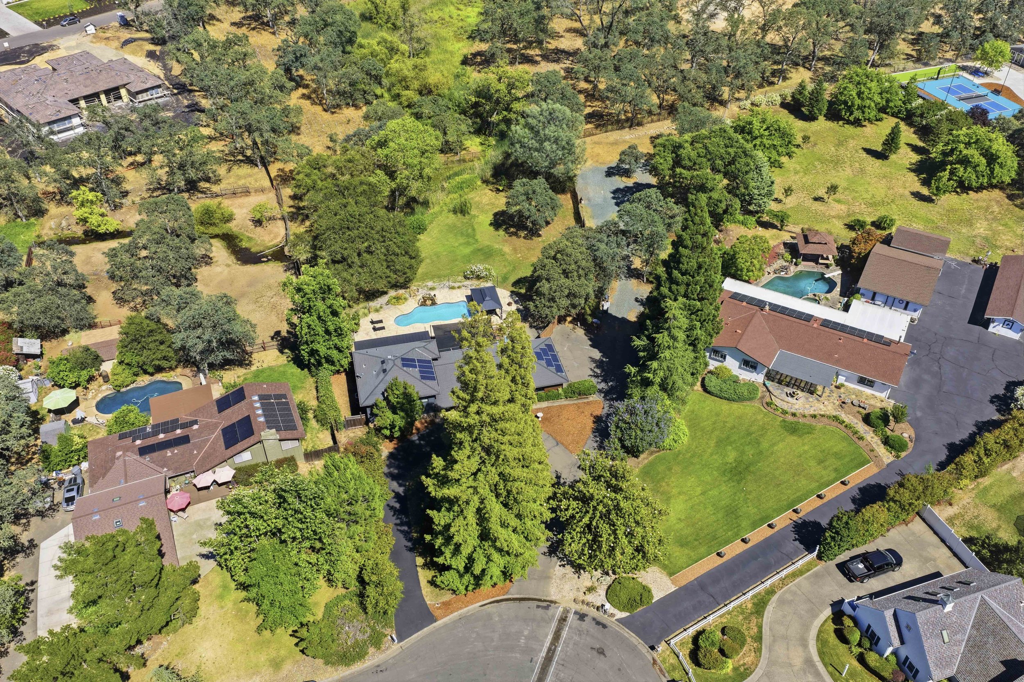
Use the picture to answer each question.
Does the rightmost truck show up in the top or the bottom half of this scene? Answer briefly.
bottom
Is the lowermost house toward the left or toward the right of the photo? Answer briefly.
right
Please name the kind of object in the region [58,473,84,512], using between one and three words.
car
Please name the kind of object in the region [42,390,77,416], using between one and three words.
umbrella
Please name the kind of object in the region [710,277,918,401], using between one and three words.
house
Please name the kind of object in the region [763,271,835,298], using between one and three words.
swimming pool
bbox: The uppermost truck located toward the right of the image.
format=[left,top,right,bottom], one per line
[844,548,908,584]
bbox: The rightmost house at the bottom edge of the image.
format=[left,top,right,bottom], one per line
[852,568,1024,682]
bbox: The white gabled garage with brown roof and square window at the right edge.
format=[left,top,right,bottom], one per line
[980,254,1024,349]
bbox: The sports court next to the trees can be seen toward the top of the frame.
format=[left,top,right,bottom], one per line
[919,75,1022,120]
